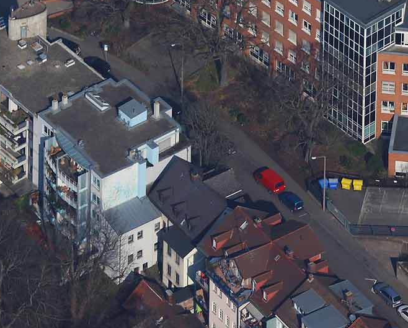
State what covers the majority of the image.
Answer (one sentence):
What you mostly see from above here is buildings.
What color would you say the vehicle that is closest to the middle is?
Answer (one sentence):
The vehicle that is closest to the middle looks red in the image.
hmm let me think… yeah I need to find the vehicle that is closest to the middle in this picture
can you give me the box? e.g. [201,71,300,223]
[253,166,286,194]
